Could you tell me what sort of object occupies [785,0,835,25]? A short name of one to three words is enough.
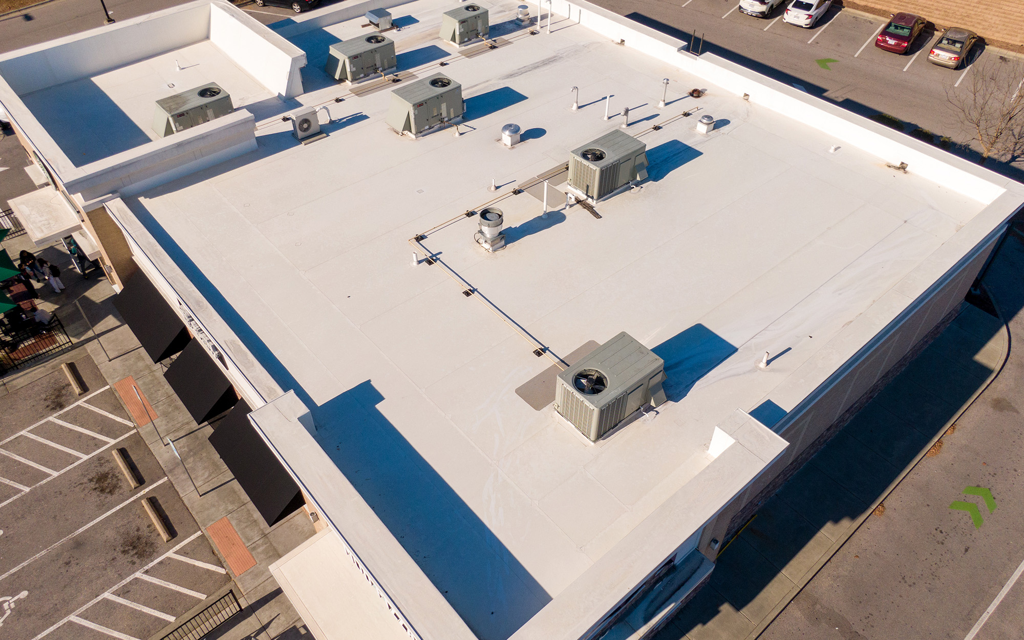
car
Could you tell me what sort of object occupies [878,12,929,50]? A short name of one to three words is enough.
car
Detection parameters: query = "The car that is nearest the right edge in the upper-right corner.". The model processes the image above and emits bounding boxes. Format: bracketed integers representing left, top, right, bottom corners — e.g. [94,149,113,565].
[930,27,980,66]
